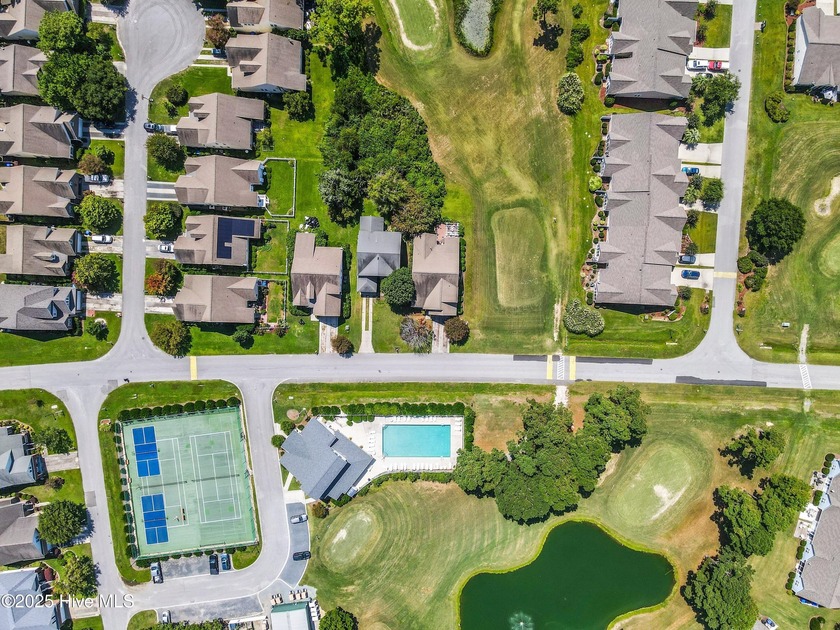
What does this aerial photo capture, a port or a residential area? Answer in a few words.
residential area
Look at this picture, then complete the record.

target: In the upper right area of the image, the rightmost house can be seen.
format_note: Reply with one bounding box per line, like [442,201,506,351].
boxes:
[795,2,840,88]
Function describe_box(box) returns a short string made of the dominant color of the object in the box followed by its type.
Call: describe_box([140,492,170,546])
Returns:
blue sports court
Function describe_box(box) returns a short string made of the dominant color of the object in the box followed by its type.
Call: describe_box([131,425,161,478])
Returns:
blue sports court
